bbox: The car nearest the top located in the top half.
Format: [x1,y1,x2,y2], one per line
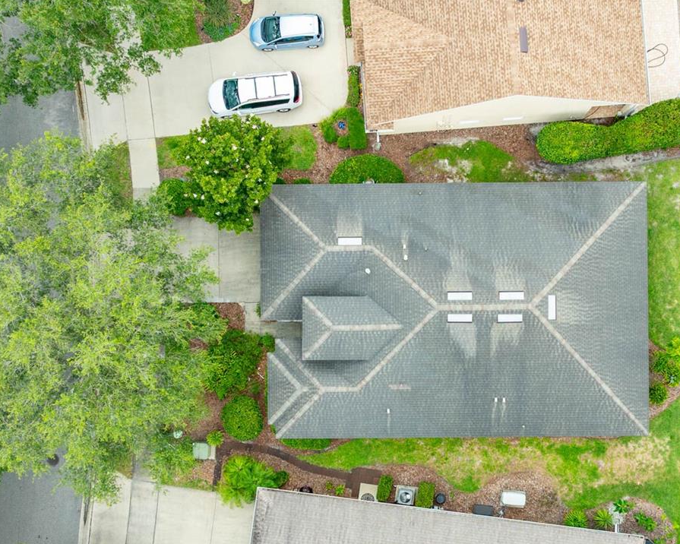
[249,10,325,53]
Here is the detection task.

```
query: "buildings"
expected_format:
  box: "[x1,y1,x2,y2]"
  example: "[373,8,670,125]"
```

[249,487,644,544]
[259,181,649,439]
[341,0,652,157]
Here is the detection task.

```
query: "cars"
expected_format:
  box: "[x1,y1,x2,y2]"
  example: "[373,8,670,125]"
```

[249,10,325,53]
[208,71,304,115]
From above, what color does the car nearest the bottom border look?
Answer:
white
